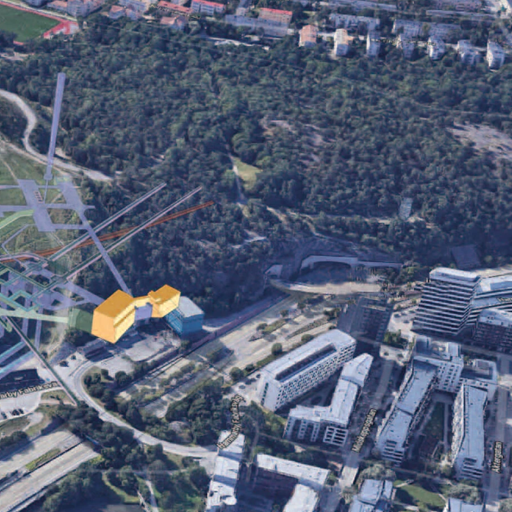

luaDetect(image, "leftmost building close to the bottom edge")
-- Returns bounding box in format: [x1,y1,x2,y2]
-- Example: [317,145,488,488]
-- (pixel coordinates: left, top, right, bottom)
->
[206,432,245,512]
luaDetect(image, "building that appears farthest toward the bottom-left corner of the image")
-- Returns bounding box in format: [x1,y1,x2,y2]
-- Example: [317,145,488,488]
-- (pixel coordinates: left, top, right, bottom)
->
[0,368,43,391]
